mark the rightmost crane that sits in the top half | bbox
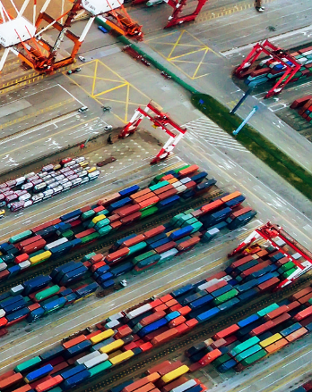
[235,40,303,97]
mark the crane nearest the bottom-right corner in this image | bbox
[229,222,312,296]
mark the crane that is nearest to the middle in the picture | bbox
[121,102,188,164]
